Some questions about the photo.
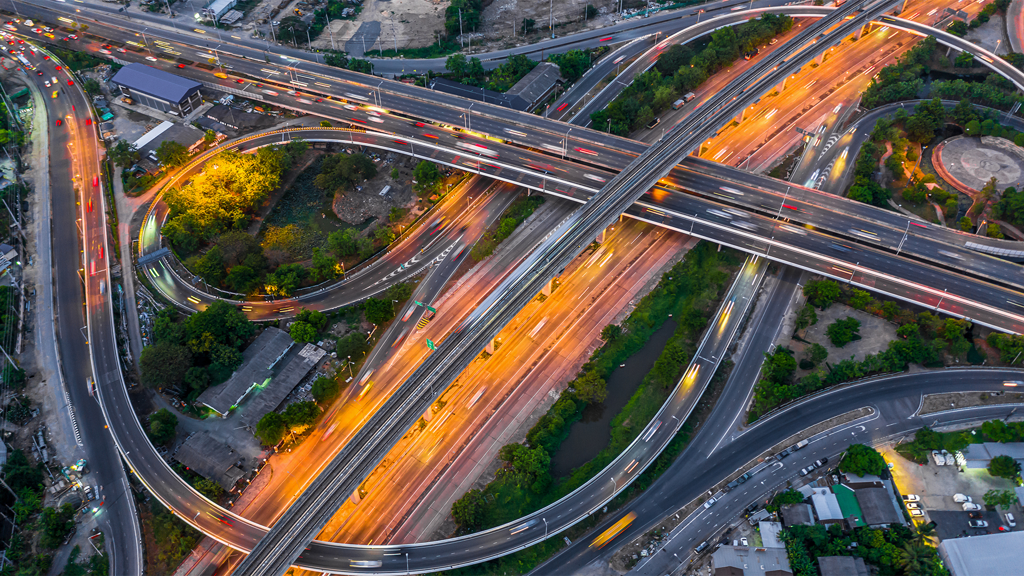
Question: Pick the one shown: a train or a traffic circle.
train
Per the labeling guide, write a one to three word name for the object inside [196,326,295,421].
shed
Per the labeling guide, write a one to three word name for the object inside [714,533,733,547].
vehicle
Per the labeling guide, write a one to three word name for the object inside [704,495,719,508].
vehicle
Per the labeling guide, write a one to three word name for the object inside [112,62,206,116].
building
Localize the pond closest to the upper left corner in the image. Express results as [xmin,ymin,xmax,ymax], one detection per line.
[260,154,379,258]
